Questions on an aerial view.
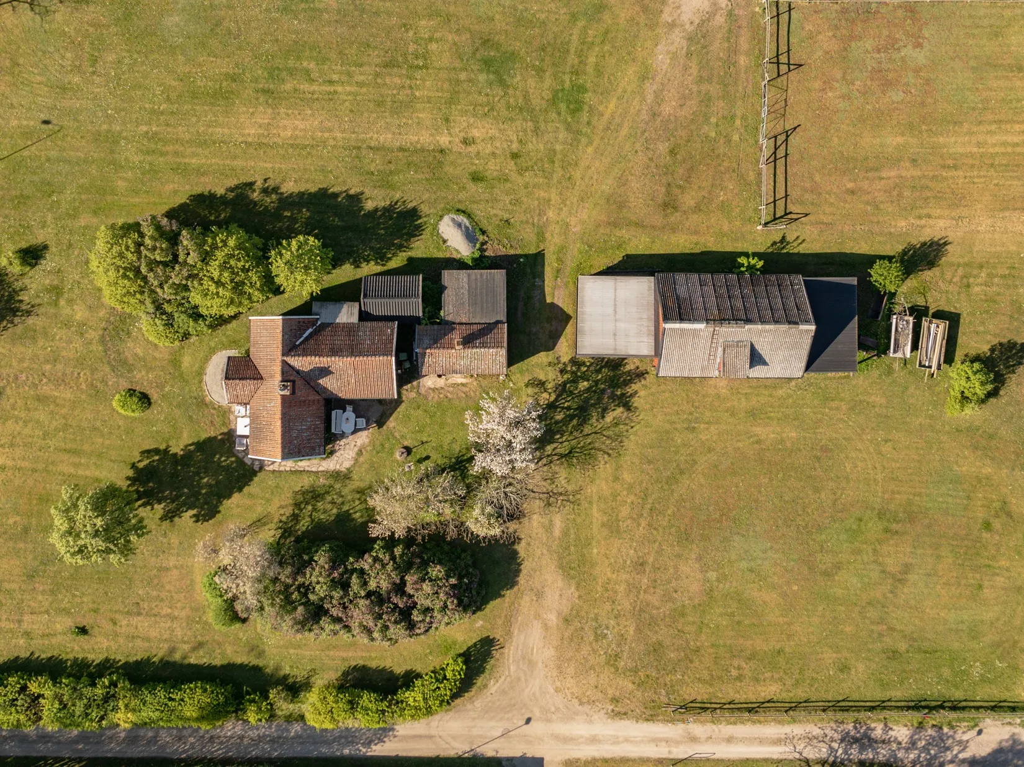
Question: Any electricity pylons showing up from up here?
No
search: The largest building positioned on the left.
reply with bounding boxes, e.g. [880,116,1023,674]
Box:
[222,302,397,461]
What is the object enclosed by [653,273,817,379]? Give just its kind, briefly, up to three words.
barn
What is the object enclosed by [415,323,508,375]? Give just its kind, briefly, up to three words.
shed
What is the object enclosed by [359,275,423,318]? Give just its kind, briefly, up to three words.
shed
